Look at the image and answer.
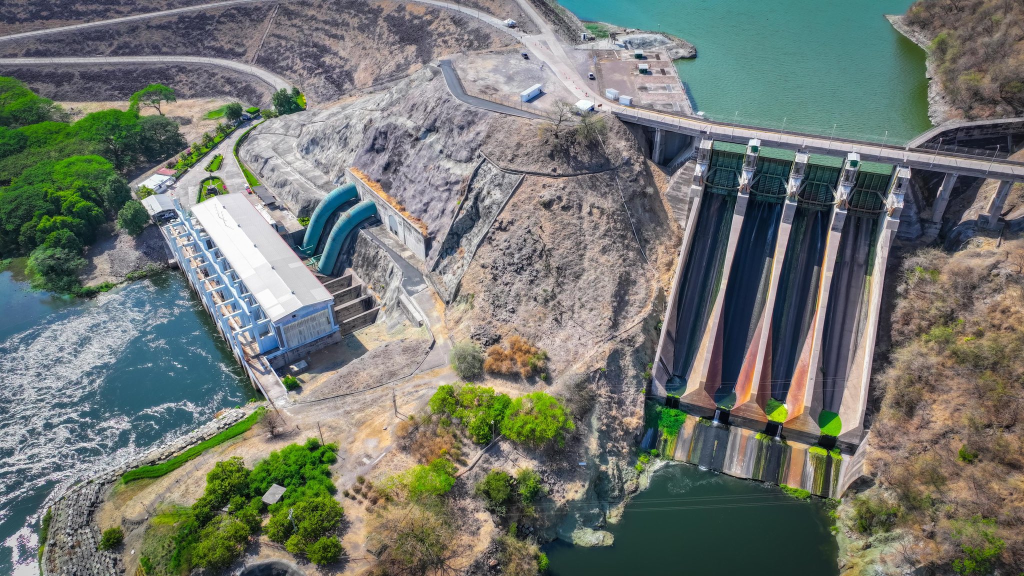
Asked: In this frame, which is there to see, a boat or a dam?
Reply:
dam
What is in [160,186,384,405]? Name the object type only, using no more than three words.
building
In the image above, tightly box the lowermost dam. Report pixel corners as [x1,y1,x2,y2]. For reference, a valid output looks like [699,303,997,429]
[633,142,905,503]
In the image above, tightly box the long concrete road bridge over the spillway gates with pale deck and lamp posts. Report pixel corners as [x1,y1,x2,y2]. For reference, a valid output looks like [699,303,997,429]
[610,102,1024,240]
